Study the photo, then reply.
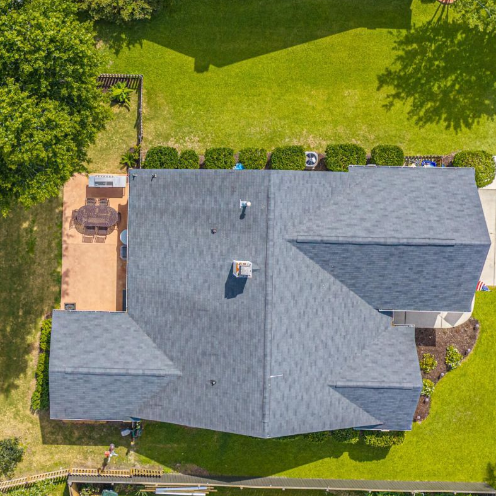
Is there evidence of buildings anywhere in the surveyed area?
Yes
